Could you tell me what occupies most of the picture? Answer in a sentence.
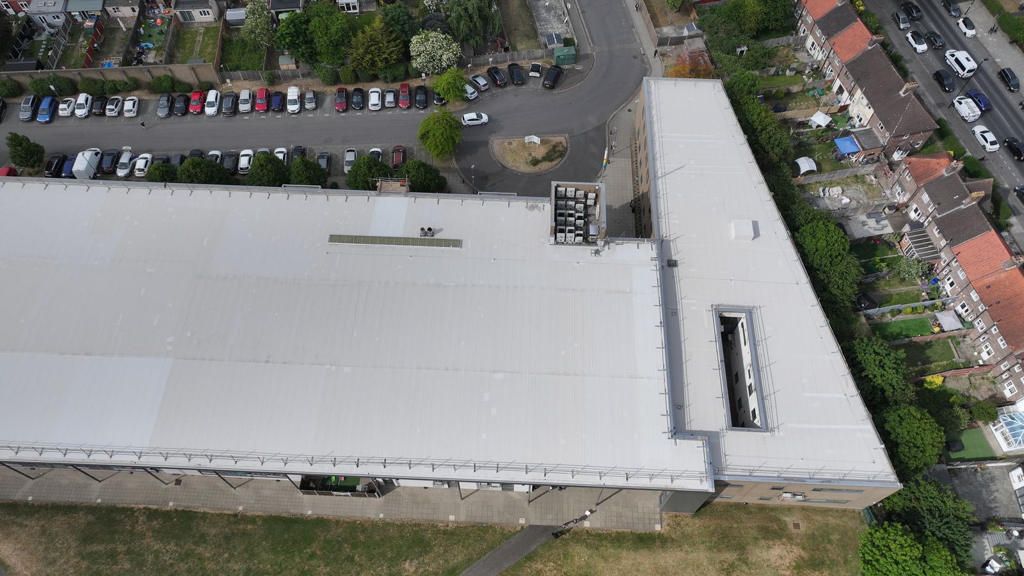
What you mostly see from above here is buildings.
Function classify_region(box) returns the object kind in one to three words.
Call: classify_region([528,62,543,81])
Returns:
car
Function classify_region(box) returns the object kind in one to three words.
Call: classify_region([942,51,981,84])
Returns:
vehicle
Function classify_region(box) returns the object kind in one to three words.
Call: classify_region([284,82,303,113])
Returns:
vehicle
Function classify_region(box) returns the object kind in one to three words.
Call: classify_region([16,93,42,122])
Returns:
car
